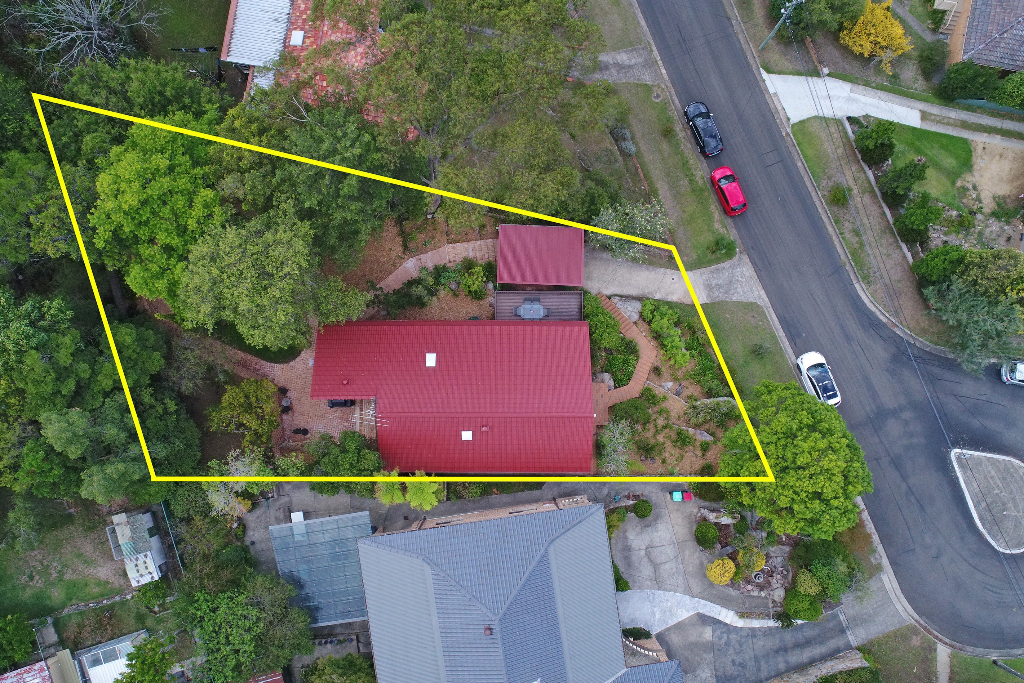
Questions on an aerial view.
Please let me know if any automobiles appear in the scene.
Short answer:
Yes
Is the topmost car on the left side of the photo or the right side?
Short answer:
right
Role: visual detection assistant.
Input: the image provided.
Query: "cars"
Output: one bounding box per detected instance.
[685,99,725,161]
[799,349,848,411]
[711,165,747,219]
[996,361,1024,385]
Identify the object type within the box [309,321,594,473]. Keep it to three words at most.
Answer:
house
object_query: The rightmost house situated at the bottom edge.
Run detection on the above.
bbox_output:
[355,492,684,683]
